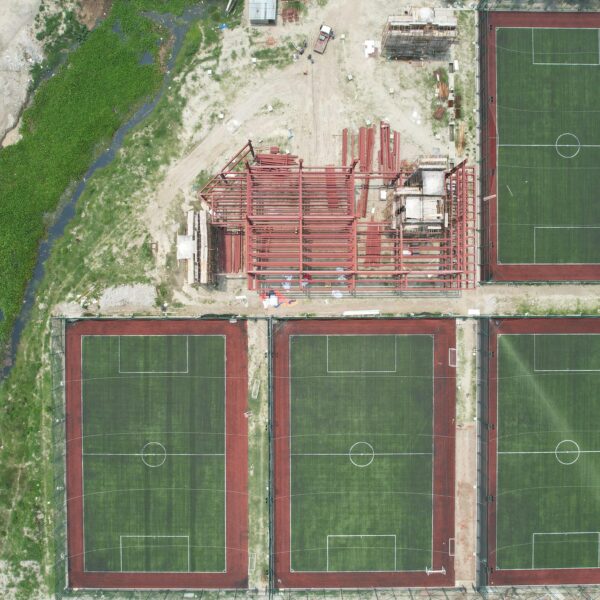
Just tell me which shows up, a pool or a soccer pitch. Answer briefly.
soccer pitch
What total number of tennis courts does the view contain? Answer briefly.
0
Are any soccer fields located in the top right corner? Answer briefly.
Yes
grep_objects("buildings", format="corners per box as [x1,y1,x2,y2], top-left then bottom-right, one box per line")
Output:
[380,7,460,54]
[200,140,476,298]
[249,0,277,25]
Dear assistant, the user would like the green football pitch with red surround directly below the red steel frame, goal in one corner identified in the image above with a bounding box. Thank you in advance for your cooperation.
[272,318,456,588]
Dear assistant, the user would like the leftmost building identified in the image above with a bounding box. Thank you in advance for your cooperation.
[177,210,216,285]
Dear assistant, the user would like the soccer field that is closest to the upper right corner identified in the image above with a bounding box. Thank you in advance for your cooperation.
[480,11,600,282]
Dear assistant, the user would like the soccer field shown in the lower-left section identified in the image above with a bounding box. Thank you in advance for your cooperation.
[66,319,250,589]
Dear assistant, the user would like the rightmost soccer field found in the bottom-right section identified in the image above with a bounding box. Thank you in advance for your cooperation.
[480,318,600,587]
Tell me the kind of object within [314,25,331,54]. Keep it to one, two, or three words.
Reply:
vehicle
